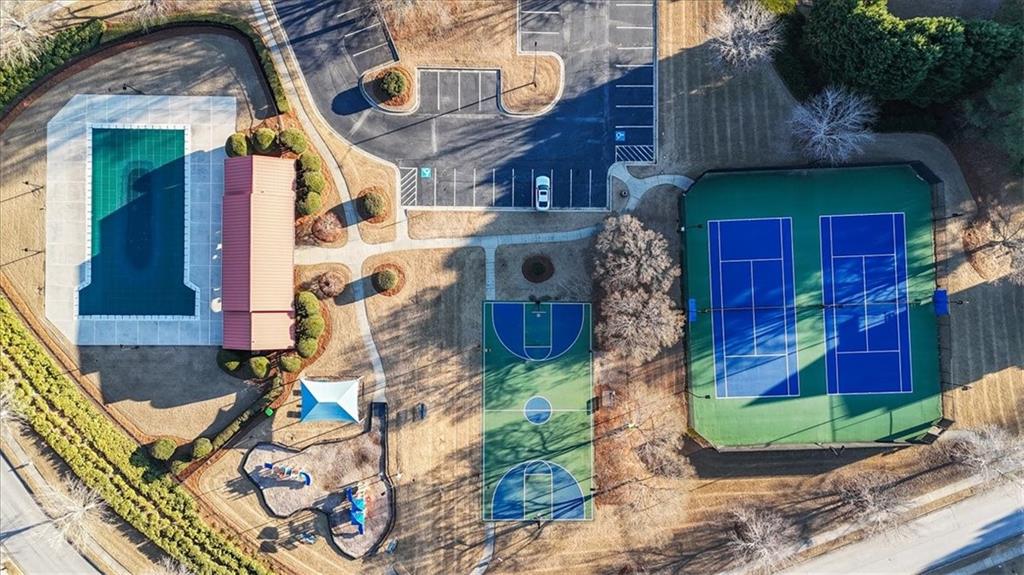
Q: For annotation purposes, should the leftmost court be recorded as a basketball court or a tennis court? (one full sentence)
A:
I'd say the leftmost court is a basketball court.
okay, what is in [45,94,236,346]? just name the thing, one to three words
swimming pool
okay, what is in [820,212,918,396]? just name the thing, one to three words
tennis court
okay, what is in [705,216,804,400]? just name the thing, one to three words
tennis court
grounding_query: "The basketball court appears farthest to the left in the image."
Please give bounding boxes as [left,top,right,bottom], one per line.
[483,303,593,521]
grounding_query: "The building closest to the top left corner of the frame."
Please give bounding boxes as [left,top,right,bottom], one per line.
[220,152,298,351]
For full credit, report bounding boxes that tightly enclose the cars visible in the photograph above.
[535,175,551,210]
